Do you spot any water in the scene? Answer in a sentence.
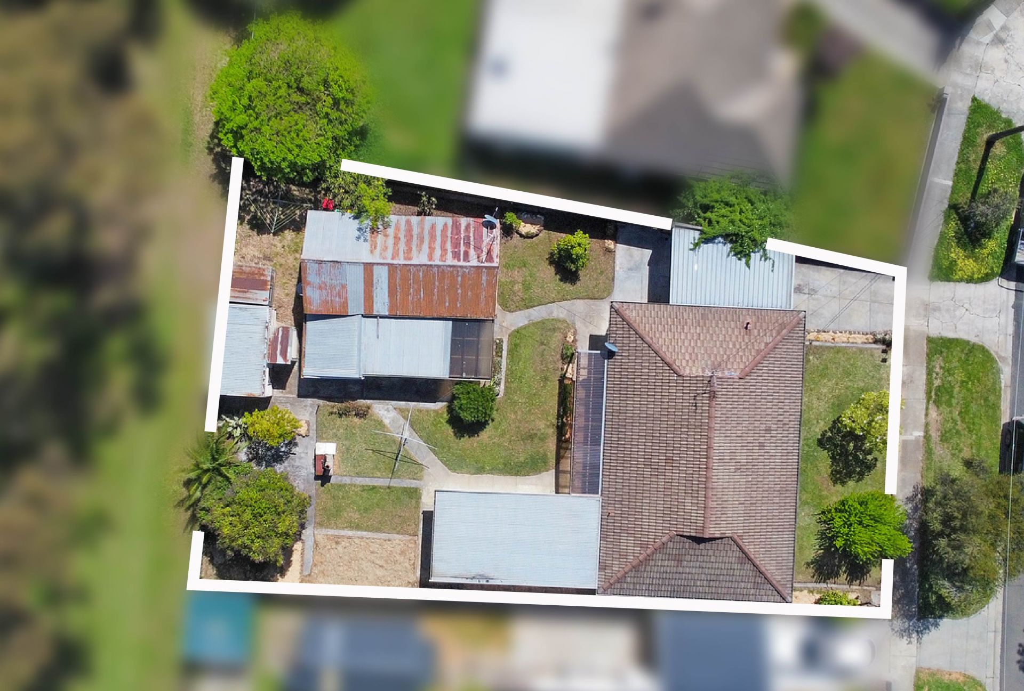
No, the scene doesn't show any water.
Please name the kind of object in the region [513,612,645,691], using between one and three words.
house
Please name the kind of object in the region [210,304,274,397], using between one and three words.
shed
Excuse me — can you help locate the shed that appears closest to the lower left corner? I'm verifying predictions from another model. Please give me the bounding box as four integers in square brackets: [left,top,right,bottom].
[183,592,263,663]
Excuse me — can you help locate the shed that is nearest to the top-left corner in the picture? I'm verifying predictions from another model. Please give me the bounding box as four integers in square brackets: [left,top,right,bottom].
[218,265,274,306]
